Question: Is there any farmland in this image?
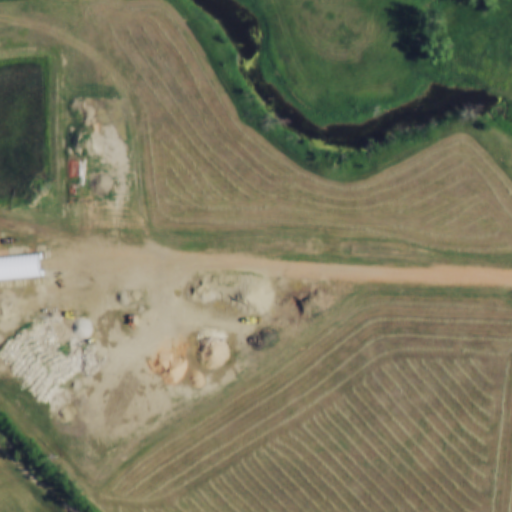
Yes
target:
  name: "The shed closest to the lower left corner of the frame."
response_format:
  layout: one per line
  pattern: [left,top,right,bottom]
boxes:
[0,250,46,278]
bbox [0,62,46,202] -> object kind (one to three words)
pond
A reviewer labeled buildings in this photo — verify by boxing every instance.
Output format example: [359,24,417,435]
[69,160,78,178]
[0,250,46,278]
